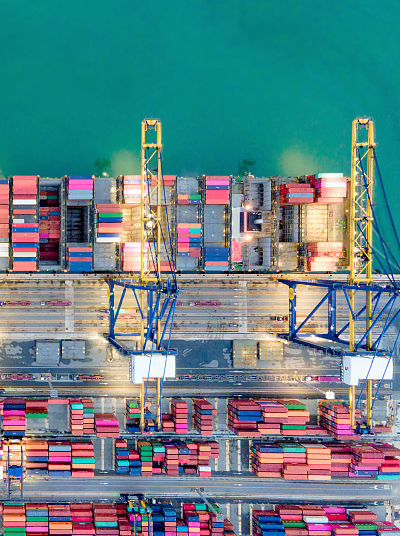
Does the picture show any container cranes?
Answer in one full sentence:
Yes, the photo shows a container crane.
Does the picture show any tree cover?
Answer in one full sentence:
No, there's no tree cover in this view.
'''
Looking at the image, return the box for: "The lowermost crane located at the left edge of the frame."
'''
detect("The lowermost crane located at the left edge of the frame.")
[2,438,25,501]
